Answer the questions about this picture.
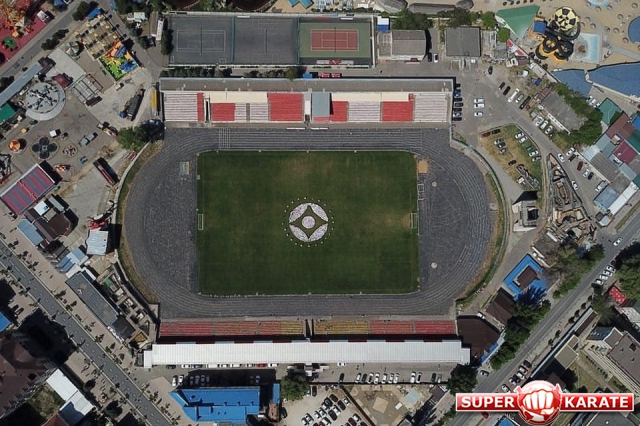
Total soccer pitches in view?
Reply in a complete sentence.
There is 1 soccer pitch in the image.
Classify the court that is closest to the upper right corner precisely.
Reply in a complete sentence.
The court that is closest to the upper right corner can be classified as a tennis court.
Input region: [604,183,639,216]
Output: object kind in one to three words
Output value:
house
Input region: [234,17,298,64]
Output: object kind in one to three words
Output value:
basketball court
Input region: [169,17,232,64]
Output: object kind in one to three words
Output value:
tennis court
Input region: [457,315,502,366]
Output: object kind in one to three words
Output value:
building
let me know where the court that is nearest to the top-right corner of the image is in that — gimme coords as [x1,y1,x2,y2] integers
[299,17,371,65]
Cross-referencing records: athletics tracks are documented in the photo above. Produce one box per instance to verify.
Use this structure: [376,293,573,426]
[124,127,492,317]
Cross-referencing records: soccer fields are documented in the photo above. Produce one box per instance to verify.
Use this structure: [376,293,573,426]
[197,151,419,294]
